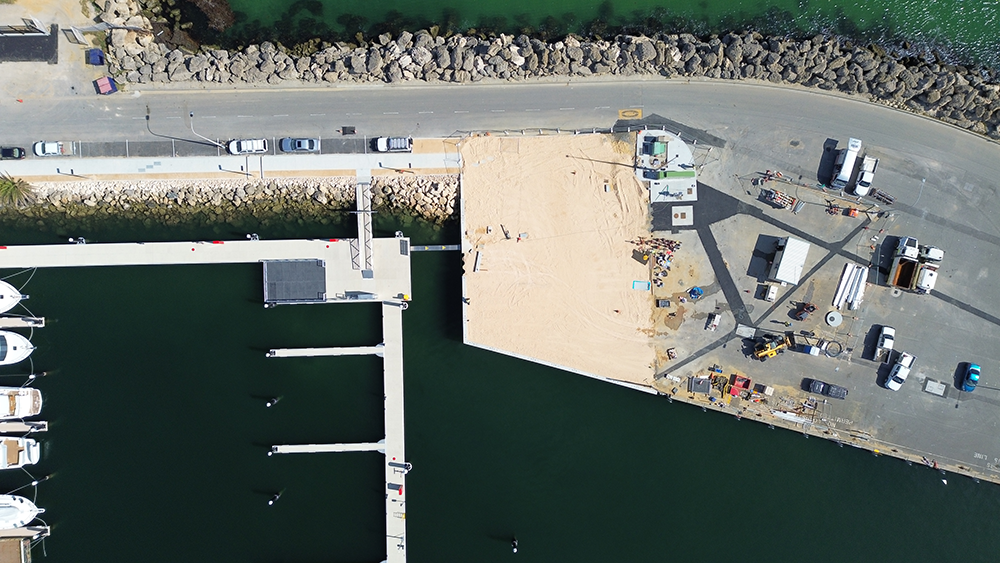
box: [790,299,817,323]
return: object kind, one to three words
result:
work vehicle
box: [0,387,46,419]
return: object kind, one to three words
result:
boat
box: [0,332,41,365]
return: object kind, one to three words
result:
boat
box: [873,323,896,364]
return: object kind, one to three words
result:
truck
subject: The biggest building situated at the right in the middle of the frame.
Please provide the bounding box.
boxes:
[764,237,810,289]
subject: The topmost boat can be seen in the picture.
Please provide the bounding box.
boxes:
[0,284,28,309]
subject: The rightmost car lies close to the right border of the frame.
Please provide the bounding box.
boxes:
[957,360,979,392]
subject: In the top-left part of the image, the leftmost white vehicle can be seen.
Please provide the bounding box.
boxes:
[35,140,80,158]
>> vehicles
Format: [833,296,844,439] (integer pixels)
[753,329,797,360]
[873,323,896,364]
[375,136,412,153]
[790,299,817,323]
[882,350,914,391]
[35,140,80,158]
[820,135,869,191]
[914,245,942,293]
[230,138,271,156]
[805,377,851,402]
[957,360,979,392]
[281,137,320,154]
[886,235,926,294]
[850,154,881,198]
[0,144,28,161]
